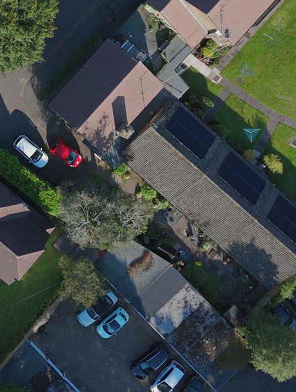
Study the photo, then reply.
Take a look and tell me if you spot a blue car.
Yes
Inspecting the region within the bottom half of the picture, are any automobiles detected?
Yes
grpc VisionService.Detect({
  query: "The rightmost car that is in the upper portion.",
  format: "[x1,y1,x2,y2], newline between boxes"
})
[50,137,82,166]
